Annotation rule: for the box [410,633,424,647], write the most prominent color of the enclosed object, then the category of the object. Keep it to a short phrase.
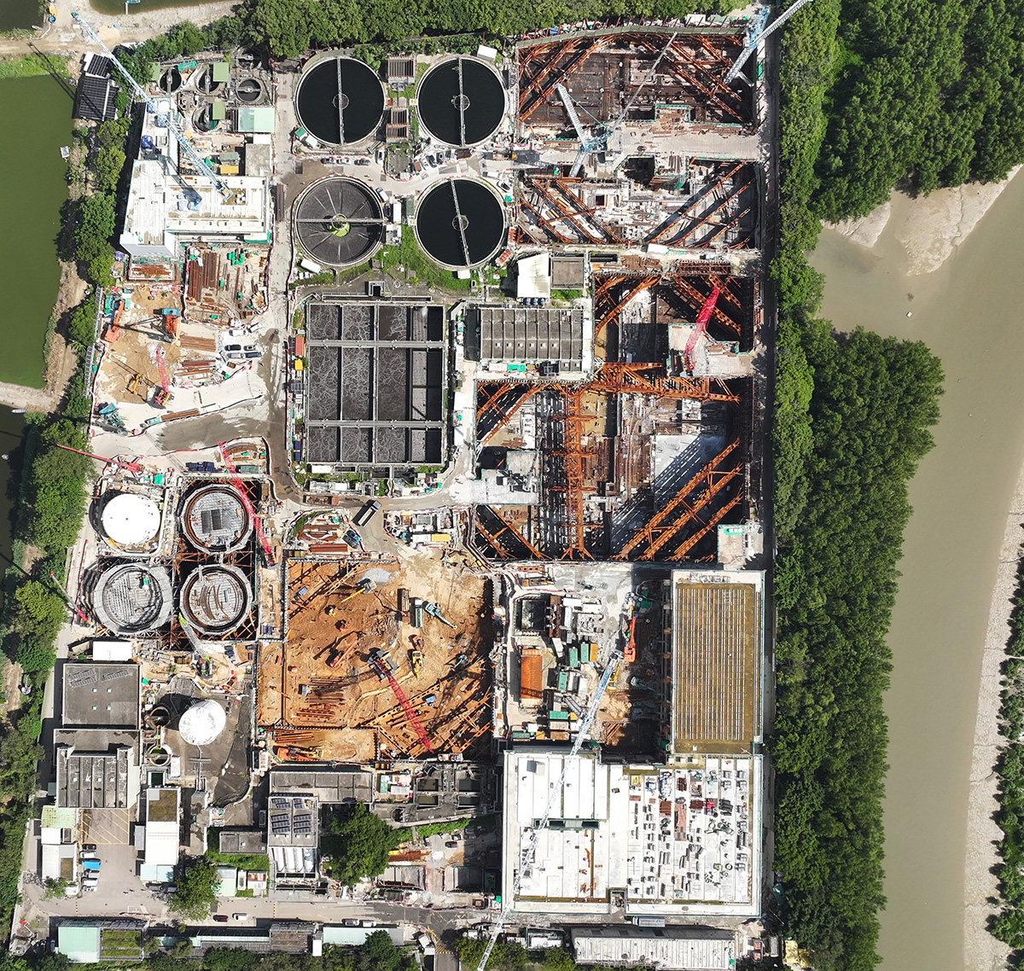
red work vehicle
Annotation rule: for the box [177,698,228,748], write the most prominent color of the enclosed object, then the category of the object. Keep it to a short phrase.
white storage tank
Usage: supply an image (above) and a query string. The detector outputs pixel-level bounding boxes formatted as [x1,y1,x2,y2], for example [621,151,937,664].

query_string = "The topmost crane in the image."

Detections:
[720,0,820,86]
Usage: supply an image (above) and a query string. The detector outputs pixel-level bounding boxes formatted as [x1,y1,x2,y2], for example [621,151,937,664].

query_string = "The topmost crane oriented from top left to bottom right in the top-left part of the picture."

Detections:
[73,12,232,206]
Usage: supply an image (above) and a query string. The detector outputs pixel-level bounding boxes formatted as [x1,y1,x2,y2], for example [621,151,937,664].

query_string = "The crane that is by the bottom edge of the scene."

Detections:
[470,638,632,971]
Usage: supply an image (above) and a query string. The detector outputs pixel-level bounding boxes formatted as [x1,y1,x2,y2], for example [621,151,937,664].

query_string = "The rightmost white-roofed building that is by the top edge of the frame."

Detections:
[476,45,498,65]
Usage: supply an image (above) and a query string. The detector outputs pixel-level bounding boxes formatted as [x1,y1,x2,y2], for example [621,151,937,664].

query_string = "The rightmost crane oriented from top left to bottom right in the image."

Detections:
[367,649,436,753]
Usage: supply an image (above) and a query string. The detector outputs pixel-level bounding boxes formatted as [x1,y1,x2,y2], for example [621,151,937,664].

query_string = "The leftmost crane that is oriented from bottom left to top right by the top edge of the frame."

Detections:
[554,29,679,180]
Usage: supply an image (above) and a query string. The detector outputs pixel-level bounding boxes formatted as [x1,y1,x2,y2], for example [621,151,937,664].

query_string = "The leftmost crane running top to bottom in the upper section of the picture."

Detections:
[151,344,171,409]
